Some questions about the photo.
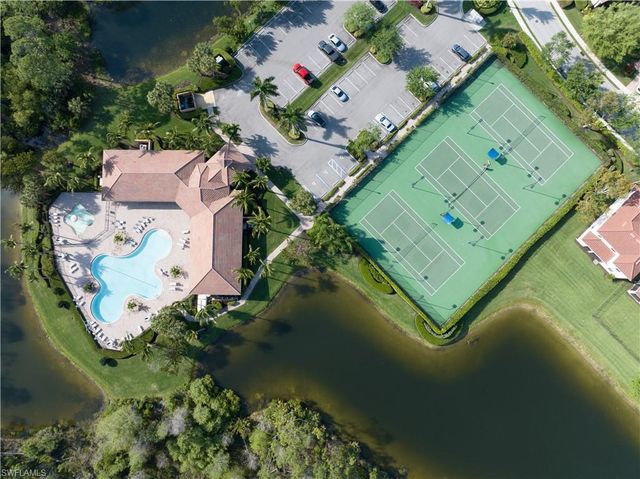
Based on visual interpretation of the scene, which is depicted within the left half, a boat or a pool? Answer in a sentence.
Looking within the left half, you will find a pool.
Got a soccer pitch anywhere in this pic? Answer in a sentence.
No, I find no soccer pitch anywhere in the image.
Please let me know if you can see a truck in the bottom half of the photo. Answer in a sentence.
No, there's no truck to be seen in the bottom half of the photo.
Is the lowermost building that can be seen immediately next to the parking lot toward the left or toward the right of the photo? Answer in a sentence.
The lowermost building that can be seen immediately next to the parking lot is on the left side of the image.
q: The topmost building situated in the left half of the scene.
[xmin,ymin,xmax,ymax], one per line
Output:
[101,142,254,295]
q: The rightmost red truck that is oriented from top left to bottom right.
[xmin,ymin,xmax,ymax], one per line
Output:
[292,63,314,86]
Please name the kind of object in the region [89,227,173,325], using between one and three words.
swimming pool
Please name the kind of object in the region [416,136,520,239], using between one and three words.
tennis court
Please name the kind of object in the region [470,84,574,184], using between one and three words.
tennis court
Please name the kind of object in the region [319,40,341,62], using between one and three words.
truck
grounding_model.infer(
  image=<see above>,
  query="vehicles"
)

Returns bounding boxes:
[319,40,341,62]
[452,43,472,61]
[308,109,326,127]
[377,115,396,133]
[292,63,314,86]
[369,0,387,12]
[329,33,347,51]
[330,84,349,102]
